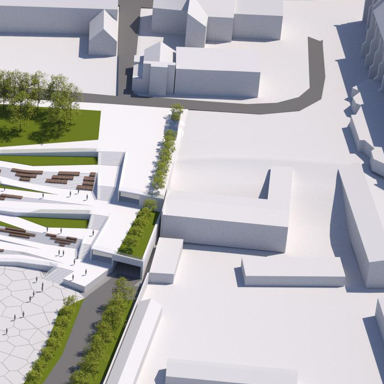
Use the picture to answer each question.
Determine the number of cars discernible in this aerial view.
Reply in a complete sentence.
The photo contains no cars.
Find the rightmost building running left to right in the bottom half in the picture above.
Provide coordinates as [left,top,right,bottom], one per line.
[241,257,345,286]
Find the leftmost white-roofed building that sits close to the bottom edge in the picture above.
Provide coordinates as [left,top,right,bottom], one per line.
[106,299,162,384]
